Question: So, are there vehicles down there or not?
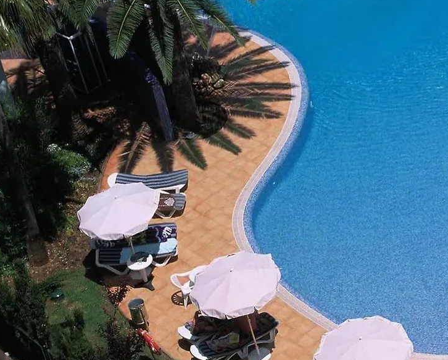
No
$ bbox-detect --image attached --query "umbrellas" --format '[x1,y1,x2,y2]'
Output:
[190,259,284,335]
[310,314,418,360]
[74,184,167,254]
